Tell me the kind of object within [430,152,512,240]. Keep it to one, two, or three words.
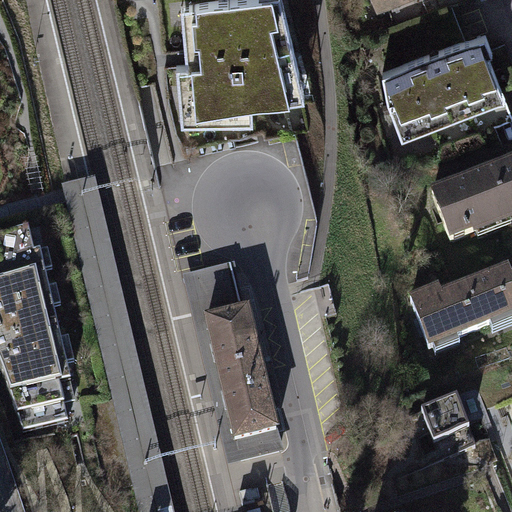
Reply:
house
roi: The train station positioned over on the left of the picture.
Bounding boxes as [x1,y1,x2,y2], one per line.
[26,0,298,512]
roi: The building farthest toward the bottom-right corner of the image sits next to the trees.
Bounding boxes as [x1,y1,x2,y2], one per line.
[419,390,476,457]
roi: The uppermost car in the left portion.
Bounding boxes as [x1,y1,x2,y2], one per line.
[170,220,194,233]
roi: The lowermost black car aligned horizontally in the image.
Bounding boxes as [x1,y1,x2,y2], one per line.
[177,243,200,255]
